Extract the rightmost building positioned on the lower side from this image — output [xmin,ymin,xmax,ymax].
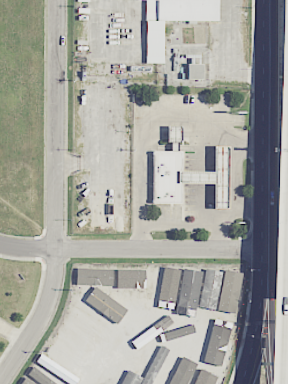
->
[219,270,244,314]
